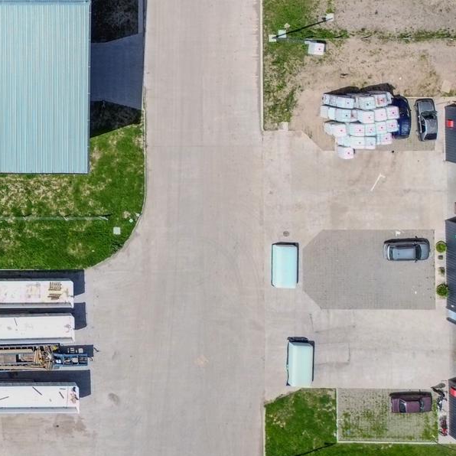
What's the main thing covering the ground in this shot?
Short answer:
paved ground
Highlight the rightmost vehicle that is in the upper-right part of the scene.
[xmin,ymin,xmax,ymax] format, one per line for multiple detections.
[414,98,440,141]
